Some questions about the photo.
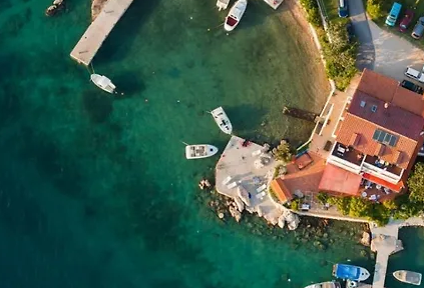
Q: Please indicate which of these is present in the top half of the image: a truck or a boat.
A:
boat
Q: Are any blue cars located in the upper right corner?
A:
Yes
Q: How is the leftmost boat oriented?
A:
on a diagonal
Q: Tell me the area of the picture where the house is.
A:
right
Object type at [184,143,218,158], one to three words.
boat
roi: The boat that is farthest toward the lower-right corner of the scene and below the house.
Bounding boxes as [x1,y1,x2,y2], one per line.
[392,270,423,286]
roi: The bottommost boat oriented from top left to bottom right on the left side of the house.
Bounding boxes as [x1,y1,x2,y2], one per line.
[211,106,232,133]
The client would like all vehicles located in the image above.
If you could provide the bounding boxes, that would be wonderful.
[399,78,424,95]
[336,0,348,17]
[386,1,402,26]
[399,8,414,31]
[402,64,424,83]
[412,14,424,40]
